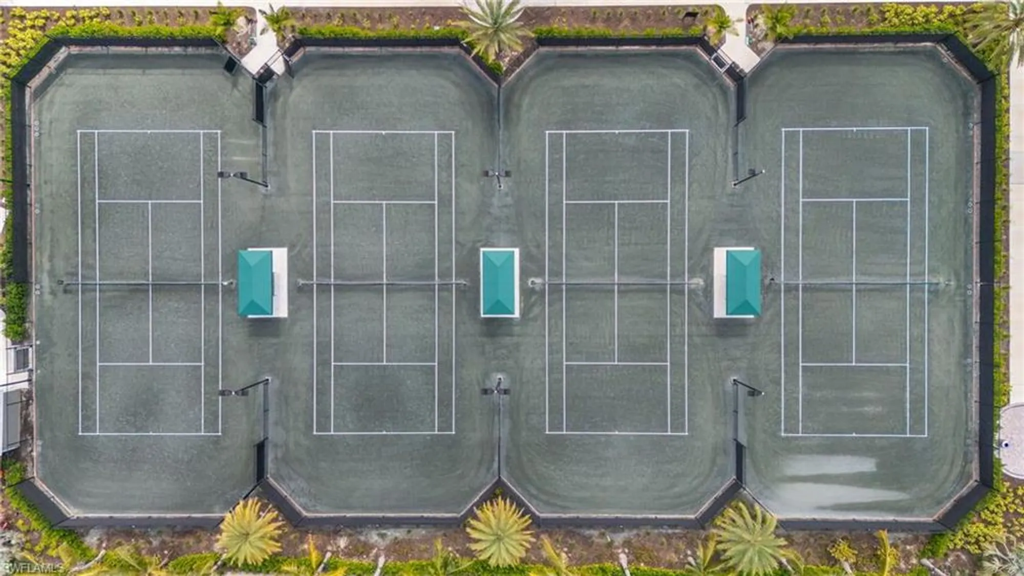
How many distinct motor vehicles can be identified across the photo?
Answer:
0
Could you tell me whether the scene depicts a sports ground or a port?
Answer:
sports ground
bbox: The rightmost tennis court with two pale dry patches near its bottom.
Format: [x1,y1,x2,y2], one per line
[734,38,981,525]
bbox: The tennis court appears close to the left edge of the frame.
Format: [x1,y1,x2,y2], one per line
[24,40,269,519]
